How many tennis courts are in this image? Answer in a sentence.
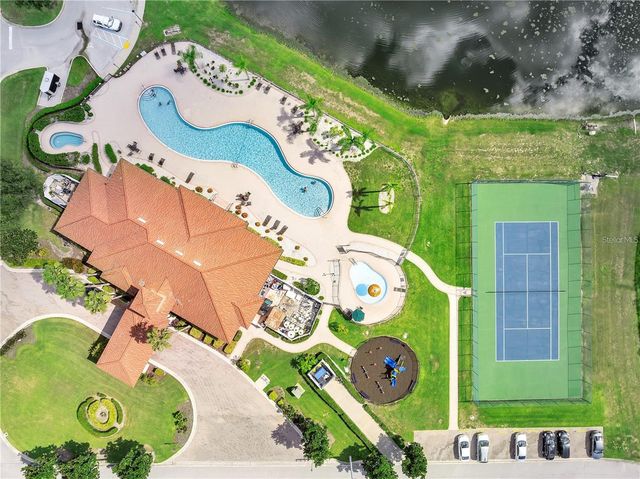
There is 1 tennis court in the image.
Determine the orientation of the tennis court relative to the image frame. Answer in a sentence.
In this picture, the tennis court is oriented up and down.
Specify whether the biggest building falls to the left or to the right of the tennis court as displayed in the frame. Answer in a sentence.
From the viewer's perspective, the biggest building falls to the left of the tennis court.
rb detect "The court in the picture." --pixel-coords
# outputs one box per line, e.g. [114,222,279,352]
[472,181,580,401]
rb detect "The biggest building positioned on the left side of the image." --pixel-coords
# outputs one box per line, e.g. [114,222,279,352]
[52,158,282,387]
